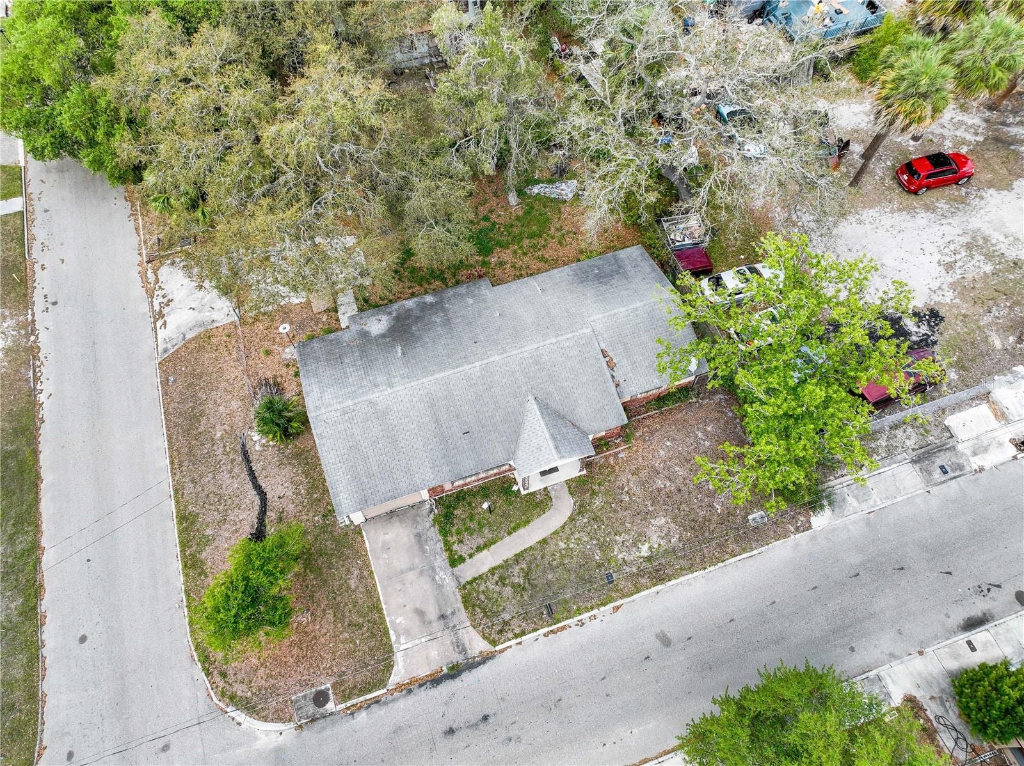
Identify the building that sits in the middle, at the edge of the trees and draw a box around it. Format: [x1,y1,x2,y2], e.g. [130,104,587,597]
[296,247,707,527]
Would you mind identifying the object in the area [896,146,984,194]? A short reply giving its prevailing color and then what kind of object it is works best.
red car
